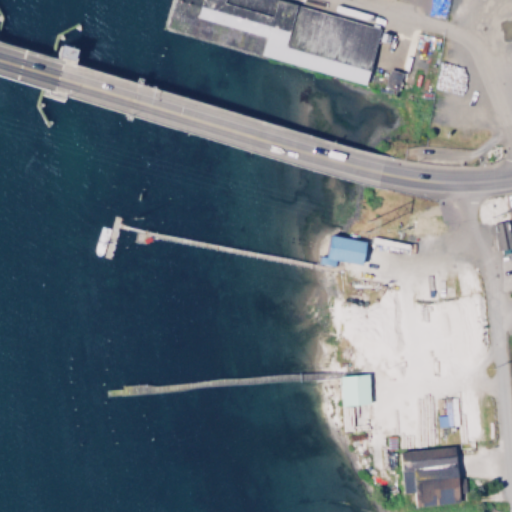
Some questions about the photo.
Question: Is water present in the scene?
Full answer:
Yes, water can be seen from above here.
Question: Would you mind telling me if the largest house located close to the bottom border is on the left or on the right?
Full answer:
You can find the largest house located close to the bottom border on the right side of the picture.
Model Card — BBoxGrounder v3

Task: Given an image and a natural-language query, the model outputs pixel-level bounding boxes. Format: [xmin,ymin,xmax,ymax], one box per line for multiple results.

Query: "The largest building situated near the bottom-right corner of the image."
[404,448,462,508]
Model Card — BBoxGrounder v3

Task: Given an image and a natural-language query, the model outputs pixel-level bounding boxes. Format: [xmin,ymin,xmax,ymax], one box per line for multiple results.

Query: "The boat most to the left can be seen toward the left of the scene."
[98,226,112,256]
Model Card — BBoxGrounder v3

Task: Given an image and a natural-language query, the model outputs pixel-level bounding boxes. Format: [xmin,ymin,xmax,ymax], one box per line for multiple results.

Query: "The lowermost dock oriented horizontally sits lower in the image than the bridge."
[108,374,345,397]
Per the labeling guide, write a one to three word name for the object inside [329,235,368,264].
building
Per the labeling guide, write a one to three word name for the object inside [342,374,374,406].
shed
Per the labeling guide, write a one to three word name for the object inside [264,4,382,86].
building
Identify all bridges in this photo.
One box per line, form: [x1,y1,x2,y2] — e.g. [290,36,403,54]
[0,42,404,192]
